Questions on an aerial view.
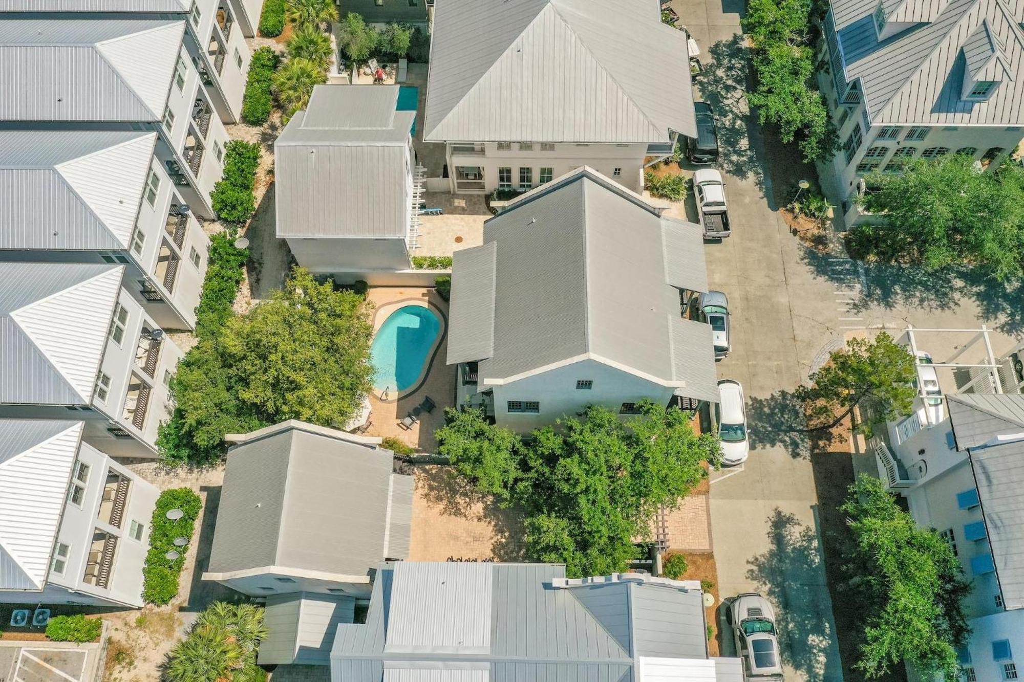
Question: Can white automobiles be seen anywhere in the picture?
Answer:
Yes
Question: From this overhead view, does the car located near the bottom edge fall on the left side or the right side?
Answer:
right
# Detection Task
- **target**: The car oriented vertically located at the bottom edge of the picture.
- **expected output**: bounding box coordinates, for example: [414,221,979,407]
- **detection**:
[731,594,783,682]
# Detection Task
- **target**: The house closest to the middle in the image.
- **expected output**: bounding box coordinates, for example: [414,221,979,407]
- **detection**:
[447,176,718,425]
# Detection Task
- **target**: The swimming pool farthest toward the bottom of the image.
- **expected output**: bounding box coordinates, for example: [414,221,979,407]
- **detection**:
[356,292,450,406]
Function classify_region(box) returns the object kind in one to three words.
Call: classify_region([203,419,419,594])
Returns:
building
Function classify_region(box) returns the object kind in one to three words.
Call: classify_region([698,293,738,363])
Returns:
car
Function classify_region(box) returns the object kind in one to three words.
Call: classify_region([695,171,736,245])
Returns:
truck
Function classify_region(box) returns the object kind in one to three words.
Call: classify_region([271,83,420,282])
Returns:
house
